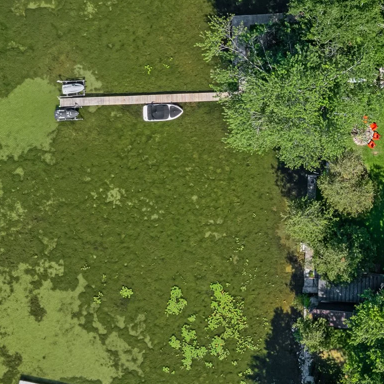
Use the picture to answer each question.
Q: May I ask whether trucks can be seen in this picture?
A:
No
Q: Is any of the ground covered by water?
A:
Yes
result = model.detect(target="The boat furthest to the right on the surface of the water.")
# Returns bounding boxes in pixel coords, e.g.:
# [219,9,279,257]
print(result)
[142,103,184,121]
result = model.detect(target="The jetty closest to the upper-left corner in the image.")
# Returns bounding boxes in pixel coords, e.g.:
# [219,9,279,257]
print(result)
[58,89,234,107]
